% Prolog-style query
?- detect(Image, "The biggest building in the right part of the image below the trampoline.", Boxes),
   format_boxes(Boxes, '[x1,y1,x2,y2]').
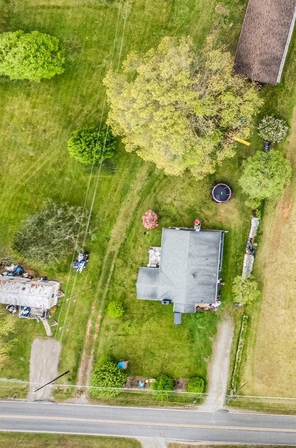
[136,227,224,313]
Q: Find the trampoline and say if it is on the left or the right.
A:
right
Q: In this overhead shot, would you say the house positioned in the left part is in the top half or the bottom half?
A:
bottom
